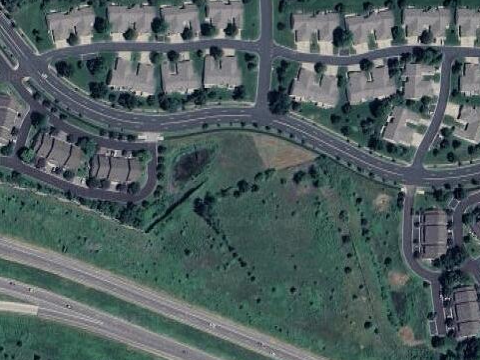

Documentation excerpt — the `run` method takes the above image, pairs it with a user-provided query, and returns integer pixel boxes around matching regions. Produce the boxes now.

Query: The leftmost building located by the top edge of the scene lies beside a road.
[44,5,94,44]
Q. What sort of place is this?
residential area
